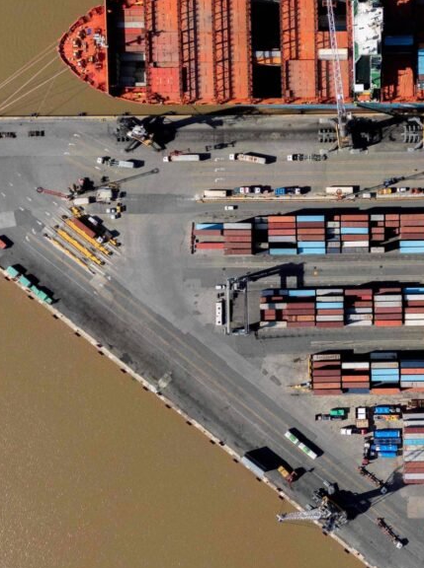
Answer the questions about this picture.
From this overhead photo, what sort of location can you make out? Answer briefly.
port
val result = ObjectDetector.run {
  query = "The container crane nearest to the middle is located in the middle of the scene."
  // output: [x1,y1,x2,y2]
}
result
[224,278,259,337]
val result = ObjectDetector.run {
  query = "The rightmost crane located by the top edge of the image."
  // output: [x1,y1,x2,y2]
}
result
[322,0,362,156]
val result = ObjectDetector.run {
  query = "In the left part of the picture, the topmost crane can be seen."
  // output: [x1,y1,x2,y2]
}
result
[116,111,163,152]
